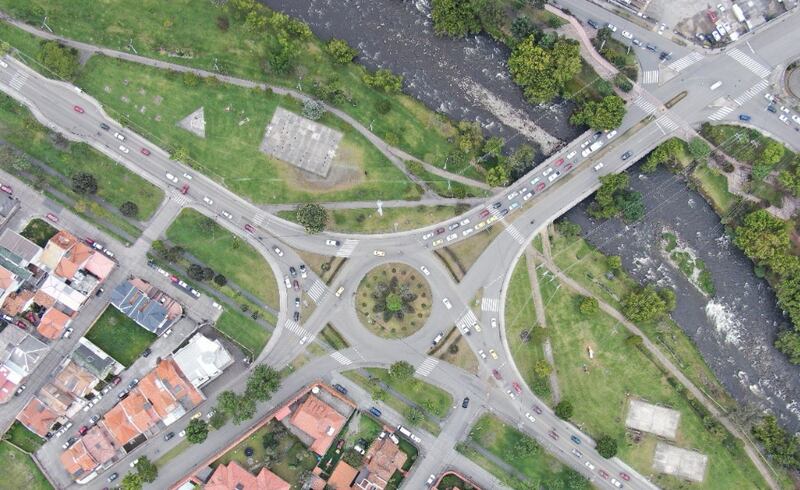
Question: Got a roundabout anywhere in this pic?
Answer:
Yes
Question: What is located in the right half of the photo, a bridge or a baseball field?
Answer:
bridge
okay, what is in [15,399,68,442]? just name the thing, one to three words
house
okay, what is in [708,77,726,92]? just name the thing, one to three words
vehicle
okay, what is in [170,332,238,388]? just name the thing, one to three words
building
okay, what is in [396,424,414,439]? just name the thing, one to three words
vehicle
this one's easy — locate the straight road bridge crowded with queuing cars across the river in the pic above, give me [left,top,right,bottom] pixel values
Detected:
[495,121,658,240]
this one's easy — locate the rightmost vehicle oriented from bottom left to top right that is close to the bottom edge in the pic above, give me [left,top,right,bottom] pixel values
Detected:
[425,471,438,488]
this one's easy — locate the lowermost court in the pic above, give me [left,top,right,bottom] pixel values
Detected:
[652,443,707,482]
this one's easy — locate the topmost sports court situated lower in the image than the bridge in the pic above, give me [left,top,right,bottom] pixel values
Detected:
[626,399,680,438]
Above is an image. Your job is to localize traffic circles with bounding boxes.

[337,244,451,358]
